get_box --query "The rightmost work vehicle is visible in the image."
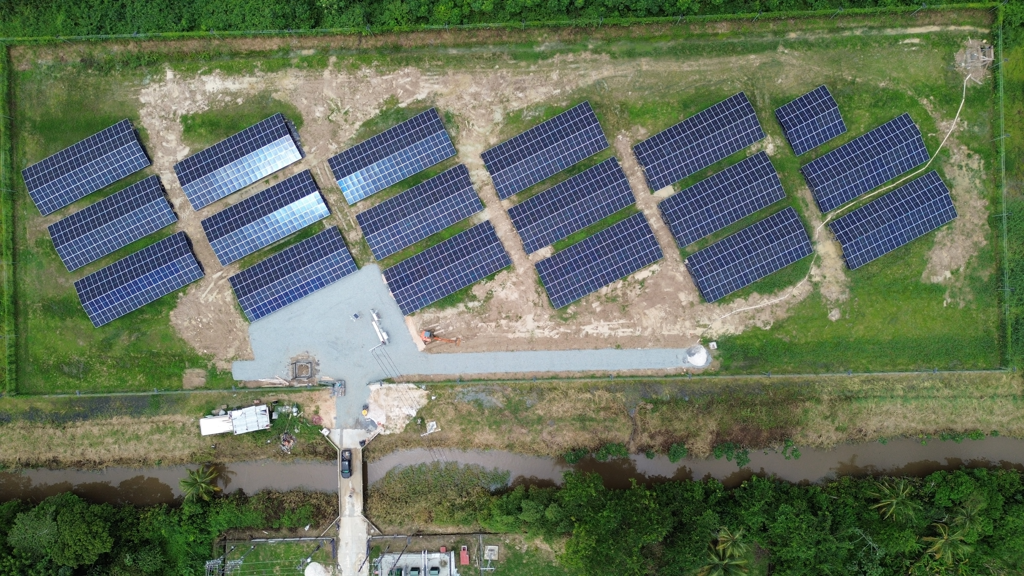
[418,327,457,345]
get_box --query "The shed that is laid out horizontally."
[195,405,270,438]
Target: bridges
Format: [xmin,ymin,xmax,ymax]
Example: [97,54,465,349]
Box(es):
[318,430,382,537]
